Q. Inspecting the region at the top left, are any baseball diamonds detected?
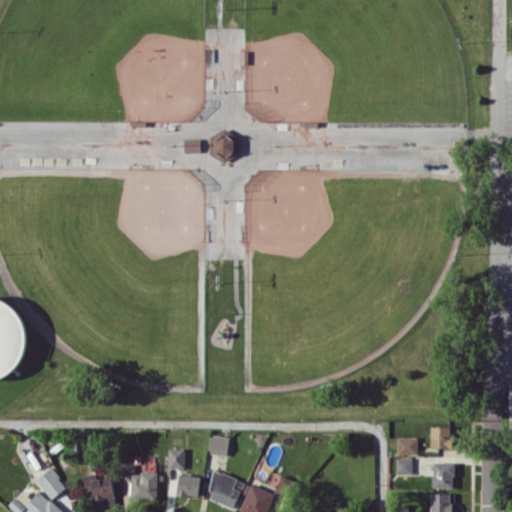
Yes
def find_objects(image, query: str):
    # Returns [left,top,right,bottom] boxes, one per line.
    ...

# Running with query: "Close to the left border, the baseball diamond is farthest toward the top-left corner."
[0,0,204,122]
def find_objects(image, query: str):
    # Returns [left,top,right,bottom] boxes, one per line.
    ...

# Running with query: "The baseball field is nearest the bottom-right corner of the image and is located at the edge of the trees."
[246,164,466,392]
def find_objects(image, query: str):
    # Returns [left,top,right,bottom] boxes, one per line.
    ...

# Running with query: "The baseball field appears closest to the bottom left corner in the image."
[0,170,204,391]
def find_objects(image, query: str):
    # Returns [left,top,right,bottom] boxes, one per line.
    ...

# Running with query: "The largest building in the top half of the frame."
[210,131,238,162]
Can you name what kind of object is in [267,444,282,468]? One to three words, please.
swimming pool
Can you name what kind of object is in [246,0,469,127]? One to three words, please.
baseball field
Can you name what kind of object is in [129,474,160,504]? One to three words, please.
house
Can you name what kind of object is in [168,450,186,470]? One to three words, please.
building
